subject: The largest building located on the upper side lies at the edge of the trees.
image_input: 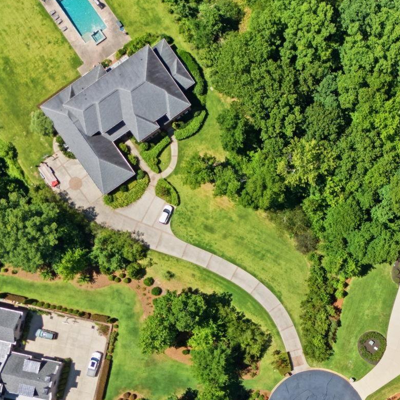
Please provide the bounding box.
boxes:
[40,38,195,195]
